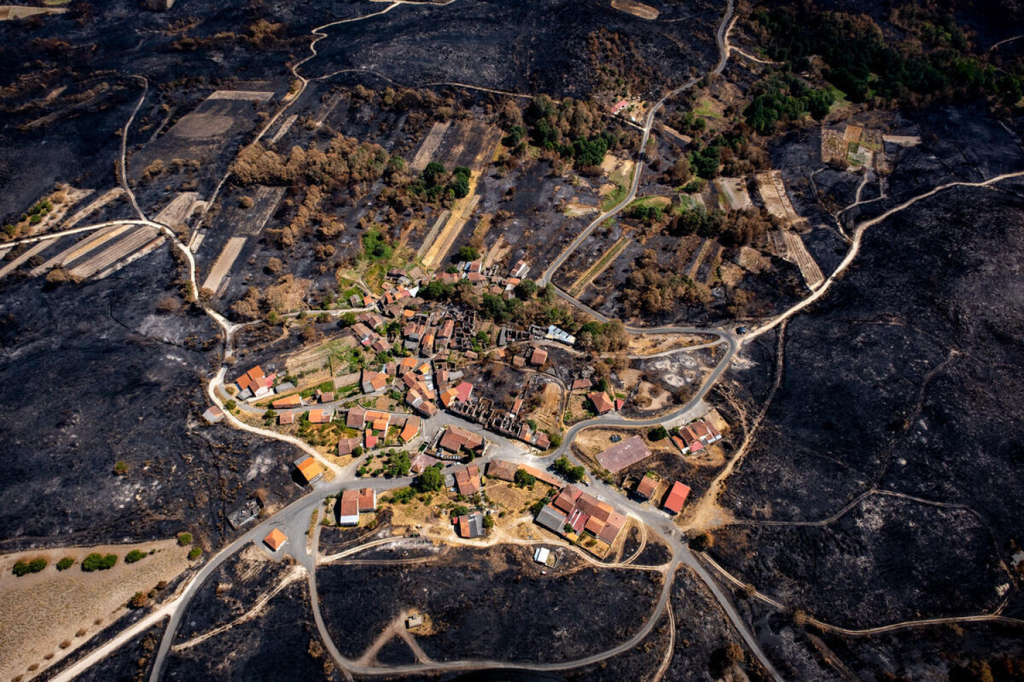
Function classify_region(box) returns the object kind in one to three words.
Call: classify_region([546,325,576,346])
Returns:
shed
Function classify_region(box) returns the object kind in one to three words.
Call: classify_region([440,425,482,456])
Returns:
building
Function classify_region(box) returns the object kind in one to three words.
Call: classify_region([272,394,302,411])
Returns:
house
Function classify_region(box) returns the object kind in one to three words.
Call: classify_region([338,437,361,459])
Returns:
barn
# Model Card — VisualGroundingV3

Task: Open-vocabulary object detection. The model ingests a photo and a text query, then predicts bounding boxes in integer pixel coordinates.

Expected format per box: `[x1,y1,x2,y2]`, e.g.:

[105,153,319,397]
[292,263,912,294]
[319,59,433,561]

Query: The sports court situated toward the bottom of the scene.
[595,435,652,474]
